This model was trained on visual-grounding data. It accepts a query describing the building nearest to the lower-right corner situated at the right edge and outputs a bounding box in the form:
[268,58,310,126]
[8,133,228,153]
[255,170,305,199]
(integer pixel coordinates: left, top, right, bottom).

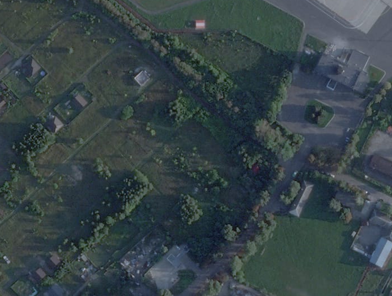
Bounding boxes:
[370,238,392,268]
